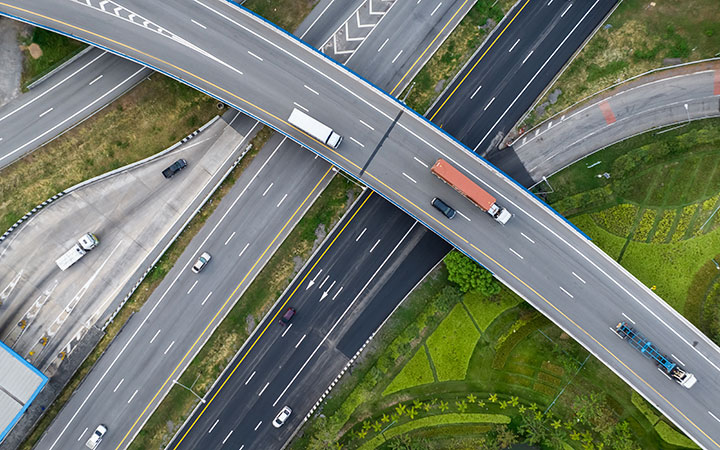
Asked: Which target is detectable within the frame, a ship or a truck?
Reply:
truck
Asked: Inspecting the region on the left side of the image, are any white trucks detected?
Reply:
Yes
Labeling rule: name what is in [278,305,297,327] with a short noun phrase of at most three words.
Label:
car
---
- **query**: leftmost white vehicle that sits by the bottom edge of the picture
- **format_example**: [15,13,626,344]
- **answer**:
[86,423,110,450]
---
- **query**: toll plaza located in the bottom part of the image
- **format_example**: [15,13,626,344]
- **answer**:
[0,338,50,443]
